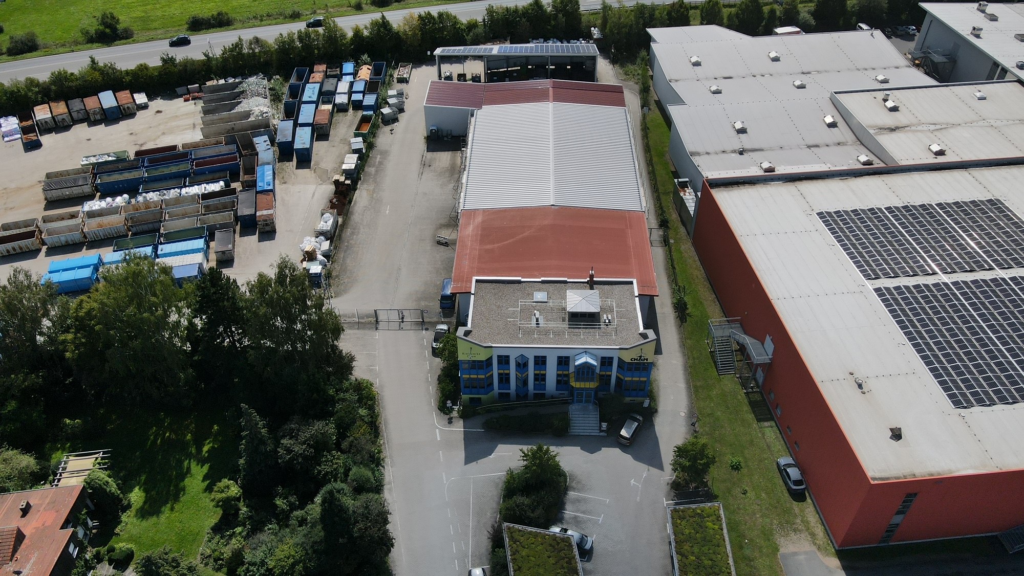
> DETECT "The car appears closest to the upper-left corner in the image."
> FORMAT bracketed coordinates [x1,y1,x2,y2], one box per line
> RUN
[168,35,191,47]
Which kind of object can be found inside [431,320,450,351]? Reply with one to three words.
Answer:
car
